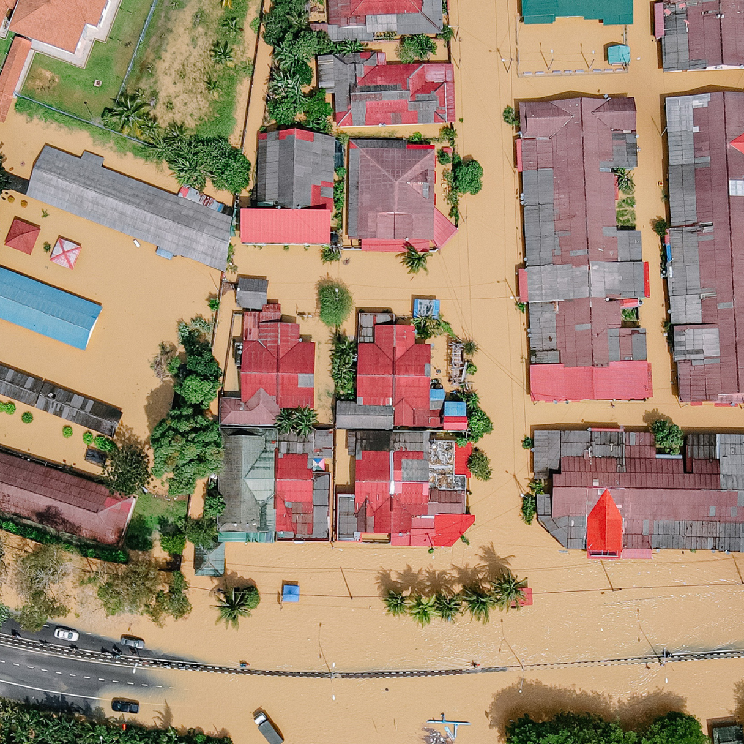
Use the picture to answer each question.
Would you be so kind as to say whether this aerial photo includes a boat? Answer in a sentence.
No, there isn't any boat down there.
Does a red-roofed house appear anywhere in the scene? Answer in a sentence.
Yes, there is a red-roofed house in the image.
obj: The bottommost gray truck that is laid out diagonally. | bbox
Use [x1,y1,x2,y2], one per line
[255,710,284,744]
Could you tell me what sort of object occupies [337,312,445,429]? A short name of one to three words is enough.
house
